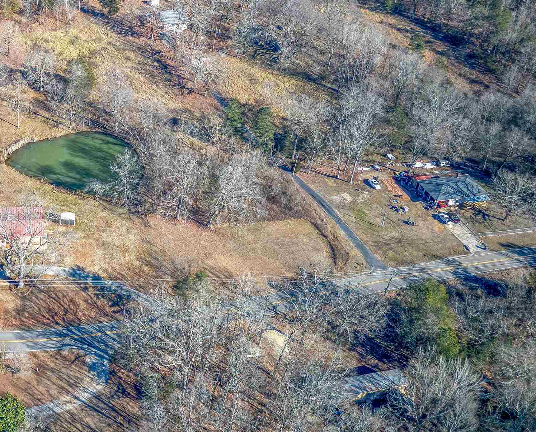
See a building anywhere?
Yes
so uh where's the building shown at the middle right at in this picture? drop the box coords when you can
[412,174,494,210]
